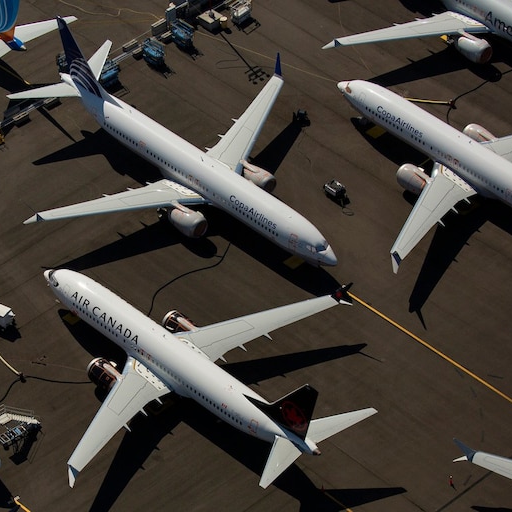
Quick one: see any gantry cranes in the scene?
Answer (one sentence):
No, there appears to be no gantry crane in this shot.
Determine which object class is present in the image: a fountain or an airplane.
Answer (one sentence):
It is an airplane that can be seen here.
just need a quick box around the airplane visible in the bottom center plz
[44,269,377,488]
